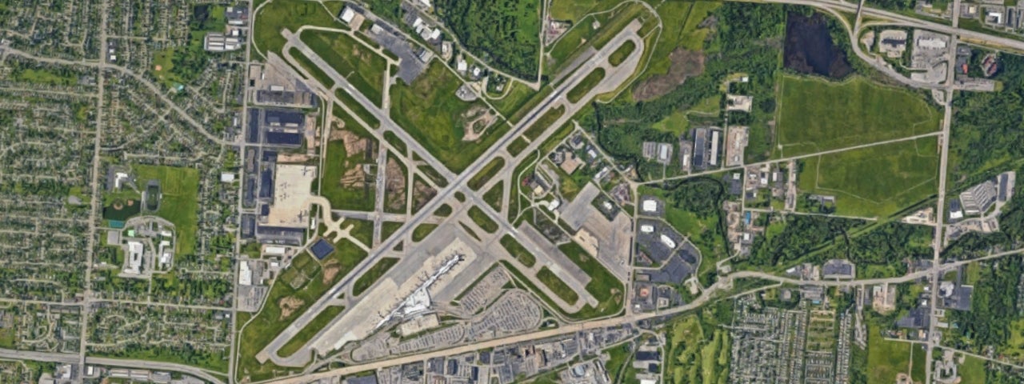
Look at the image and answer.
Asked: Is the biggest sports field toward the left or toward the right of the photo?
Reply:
left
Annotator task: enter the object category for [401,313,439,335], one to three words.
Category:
building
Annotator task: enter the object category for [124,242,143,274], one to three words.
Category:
building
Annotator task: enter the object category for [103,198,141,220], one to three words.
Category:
baseball field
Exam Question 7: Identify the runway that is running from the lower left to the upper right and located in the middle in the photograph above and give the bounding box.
[260,22,640,360]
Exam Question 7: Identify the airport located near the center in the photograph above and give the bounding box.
[237,0,662,382]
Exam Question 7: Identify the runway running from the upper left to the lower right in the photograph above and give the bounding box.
[287,27,599,308]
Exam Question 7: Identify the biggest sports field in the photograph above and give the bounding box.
[107,165,198,256]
